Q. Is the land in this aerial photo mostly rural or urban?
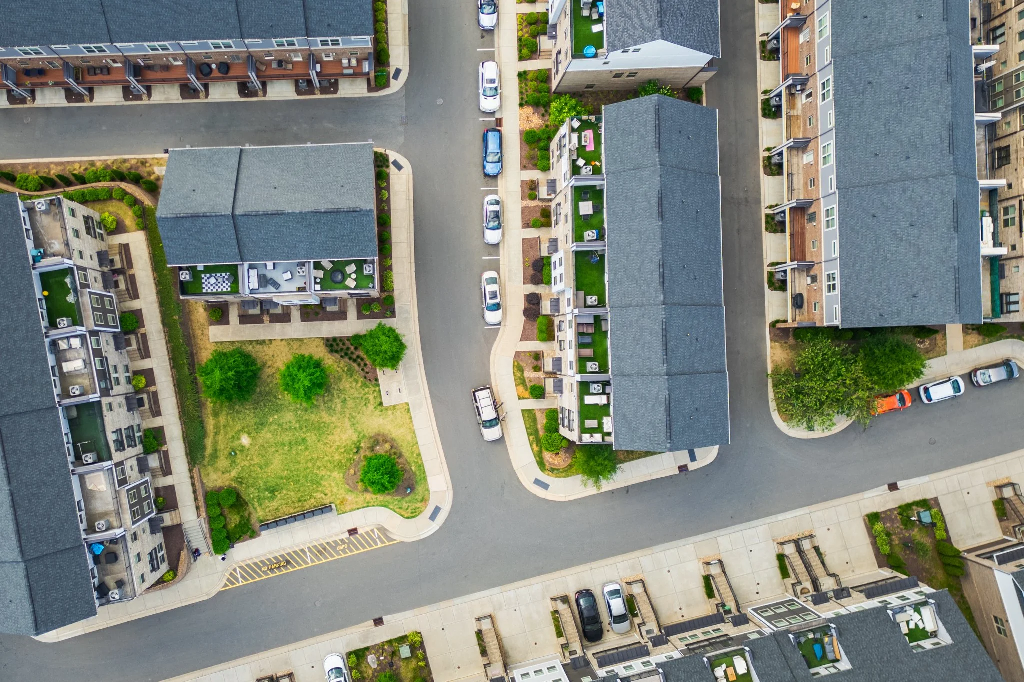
urban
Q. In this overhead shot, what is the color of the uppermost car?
white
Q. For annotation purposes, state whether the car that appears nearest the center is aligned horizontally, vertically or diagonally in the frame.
vertically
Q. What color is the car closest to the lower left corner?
white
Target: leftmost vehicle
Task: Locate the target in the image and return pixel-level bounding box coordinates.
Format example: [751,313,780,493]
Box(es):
[324,652,349,682]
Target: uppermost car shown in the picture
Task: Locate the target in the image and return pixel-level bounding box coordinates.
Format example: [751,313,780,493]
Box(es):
[476,0,500,30]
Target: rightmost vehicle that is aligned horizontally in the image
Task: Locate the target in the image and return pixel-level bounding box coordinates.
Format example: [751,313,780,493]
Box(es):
[969,360,1019,386]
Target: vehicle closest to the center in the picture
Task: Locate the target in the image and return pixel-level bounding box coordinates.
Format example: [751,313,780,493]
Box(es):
[481,271,505,324]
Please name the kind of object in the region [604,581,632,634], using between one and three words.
car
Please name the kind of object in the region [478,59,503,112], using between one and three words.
car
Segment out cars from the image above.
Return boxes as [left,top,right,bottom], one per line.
[476,0,500,30]
[478,59,503,112]
[473,387,507,440]
[969,360,1019,386]
[918,376,965,403]
[481,271,505,324]
[482,194,505,244]
[482,127,505,176]
[324,652,349,682]
[576,589,605,641]
[604,581,632,634]
[870,389,914,414]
